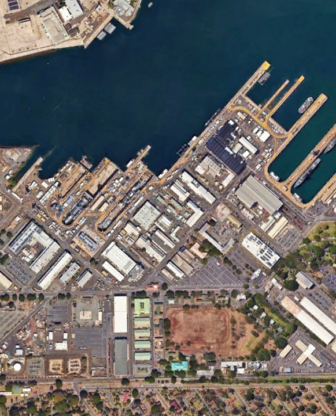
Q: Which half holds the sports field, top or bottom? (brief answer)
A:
bottom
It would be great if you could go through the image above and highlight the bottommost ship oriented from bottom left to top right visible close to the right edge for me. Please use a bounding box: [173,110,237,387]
[294,158,320,188]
